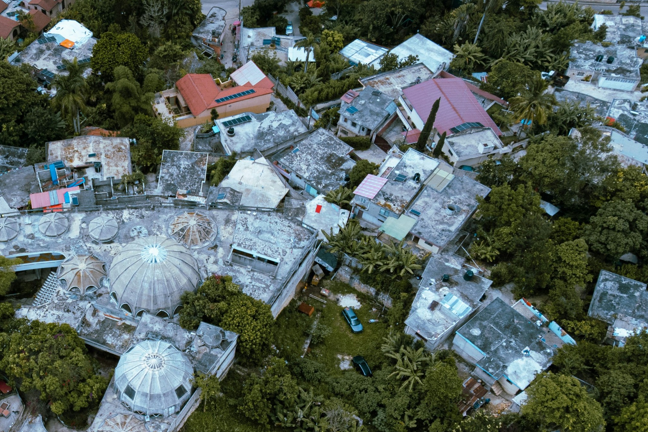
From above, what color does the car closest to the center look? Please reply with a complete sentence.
The car closest to the center is blue.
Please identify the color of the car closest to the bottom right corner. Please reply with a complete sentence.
The car closest to the bottom right corner looks black in the image.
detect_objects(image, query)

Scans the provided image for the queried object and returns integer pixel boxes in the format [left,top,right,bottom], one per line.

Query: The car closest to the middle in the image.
[342,307,364,335]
